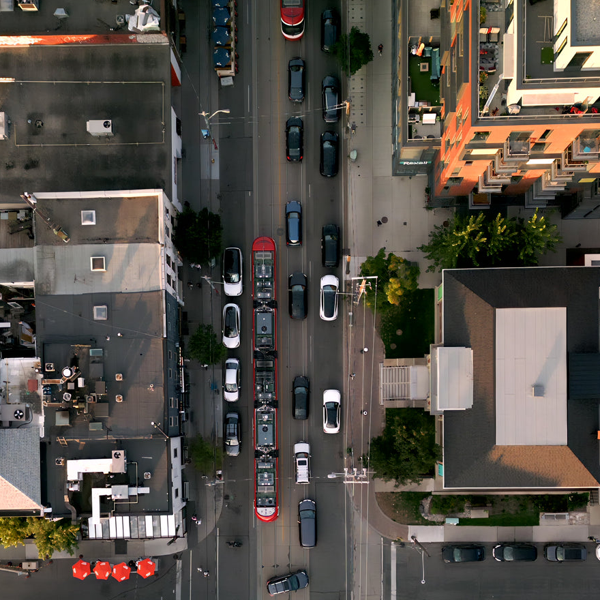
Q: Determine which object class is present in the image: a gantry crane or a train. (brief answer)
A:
train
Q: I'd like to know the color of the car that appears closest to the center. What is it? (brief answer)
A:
black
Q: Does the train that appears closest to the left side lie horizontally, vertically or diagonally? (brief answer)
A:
vertically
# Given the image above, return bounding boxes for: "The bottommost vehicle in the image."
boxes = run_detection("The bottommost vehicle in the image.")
[266,569,309,595]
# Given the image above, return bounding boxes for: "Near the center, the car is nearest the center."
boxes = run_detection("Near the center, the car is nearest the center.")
[287,274,308,320]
